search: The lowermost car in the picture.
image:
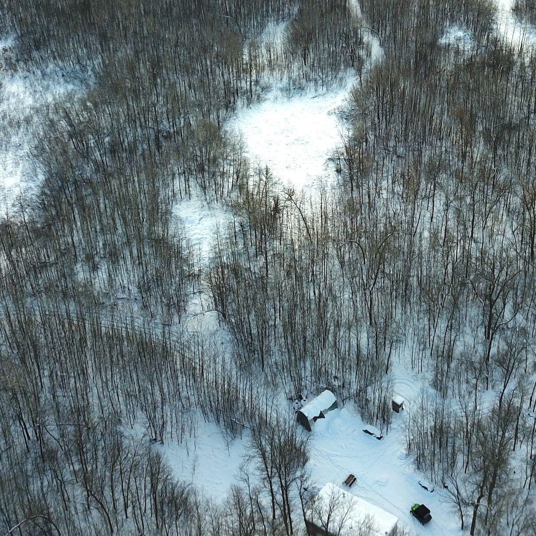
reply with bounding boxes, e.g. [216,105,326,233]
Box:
[407,502,433,523]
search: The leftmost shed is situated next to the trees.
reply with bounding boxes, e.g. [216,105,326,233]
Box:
[295,388,338,431]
